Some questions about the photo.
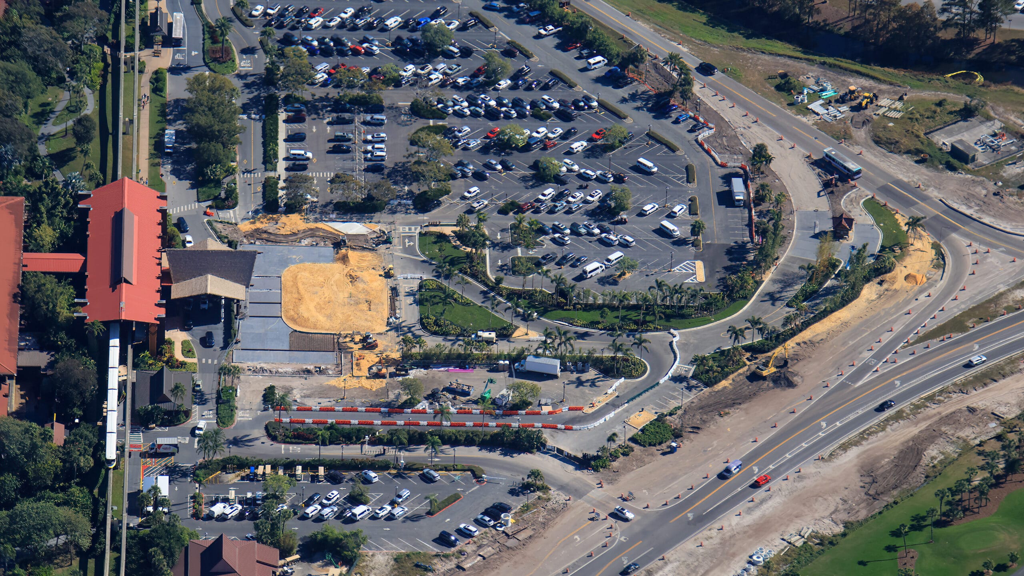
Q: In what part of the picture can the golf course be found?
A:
bottom right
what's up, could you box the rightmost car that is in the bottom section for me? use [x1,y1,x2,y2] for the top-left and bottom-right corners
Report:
[969,355,988,367]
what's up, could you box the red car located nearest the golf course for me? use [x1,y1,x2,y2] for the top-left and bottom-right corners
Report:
[754,475,772,488]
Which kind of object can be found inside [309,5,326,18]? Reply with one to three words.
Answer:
vehicle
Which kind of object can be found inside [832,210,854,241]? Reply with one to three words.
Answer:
building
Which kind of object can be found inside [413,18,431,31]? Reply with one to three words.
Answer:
vehicle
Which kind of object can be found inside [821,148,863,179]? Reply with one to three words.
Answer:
bus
